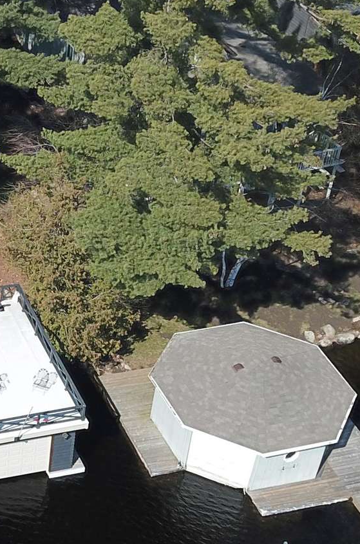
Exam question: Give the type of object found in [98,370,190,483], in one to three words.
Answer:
pier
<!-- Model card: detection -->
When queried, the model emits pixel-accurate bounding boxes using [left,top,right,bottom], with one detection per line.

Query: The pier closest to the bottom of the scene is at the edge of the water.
[245,444,350,523]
